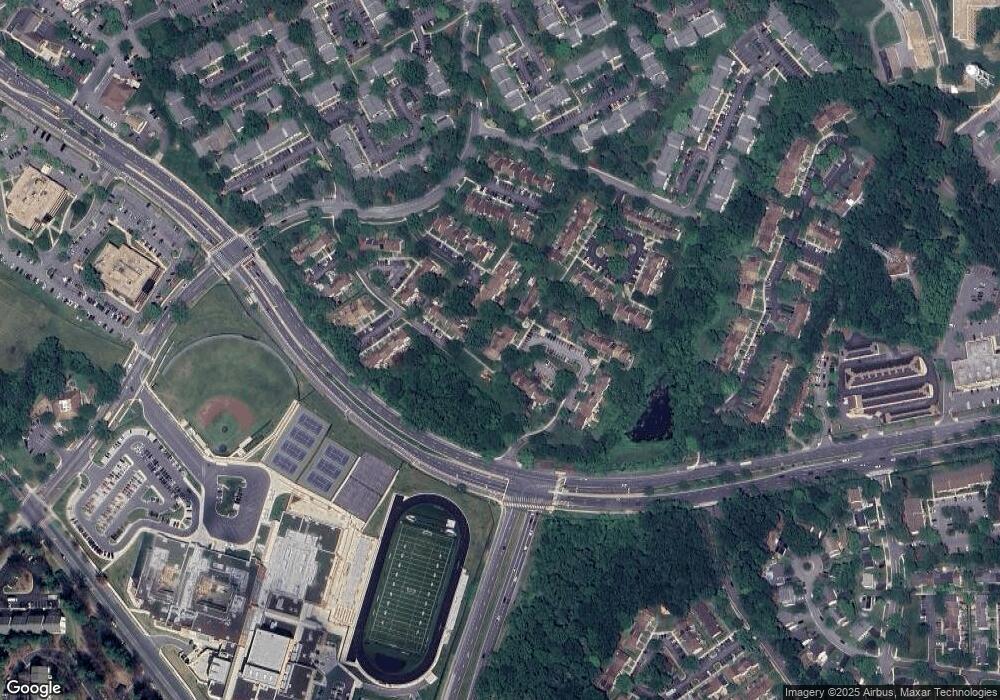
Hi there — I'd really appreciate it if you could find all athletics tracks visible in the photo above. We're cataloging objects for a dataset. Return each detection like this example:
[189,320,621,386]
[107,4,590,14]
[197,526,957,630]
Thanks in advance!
[347,494,470,681]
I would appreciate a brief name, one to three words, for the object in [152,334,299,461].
baseball field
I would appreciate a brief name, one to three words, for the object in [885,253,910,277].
house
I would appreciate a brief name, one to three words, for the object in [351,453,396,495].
sports court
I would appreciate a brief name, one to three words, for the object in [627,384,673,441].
pond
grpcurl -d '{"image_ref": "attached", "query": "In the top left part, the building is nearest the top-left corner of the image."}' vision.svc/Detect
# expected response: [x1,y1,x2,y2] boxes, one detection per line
[9,9,50,48]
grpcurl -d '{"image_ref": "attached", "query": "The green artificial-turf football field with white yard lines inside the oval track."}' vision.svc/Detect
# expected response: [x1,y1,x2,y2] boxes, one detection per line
[364,503,461,673]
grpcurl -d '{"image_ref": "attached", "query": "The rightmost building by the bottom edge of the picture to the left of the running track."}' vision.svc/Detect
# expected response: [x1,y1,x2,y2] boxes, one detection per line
[137,513,359,700]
